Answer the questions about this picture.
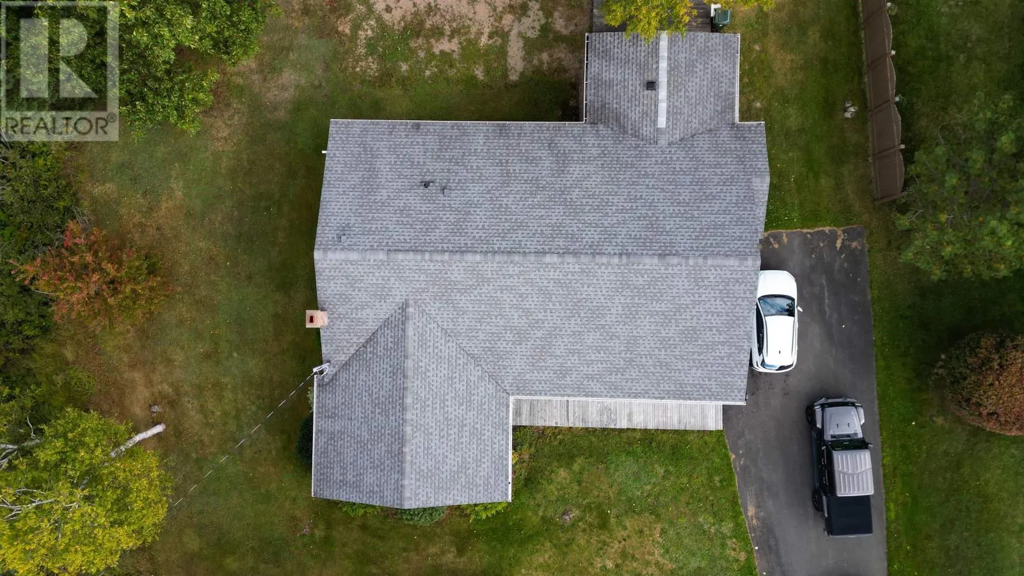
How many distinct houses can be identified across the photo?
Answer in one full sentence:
The picture shows 1 house.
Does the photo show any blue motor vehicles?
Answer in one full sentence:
No, the picture doesn't show any blue motor vehicle.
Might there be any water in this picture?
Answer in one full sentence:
No, water can't be seen anywhere here.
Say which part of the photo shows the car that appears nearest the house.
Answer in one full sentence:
The car that appears nearest the house sits in the right section of the image.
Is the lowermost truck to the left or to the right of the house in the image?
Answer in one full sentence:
It is on the right side of the house that the lowermost truck is positioned.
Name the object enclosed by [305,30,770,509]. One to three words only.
house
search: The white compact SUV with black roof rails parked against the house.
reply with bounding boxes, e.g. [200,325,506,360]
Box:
[749,270,804,375]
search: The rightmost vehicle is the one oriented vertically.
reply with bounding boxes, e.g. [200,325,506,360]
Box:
[804,395,874,541]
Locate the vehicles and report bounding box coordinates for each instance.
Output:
[804,395,874,541]
[749,270,804,375]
